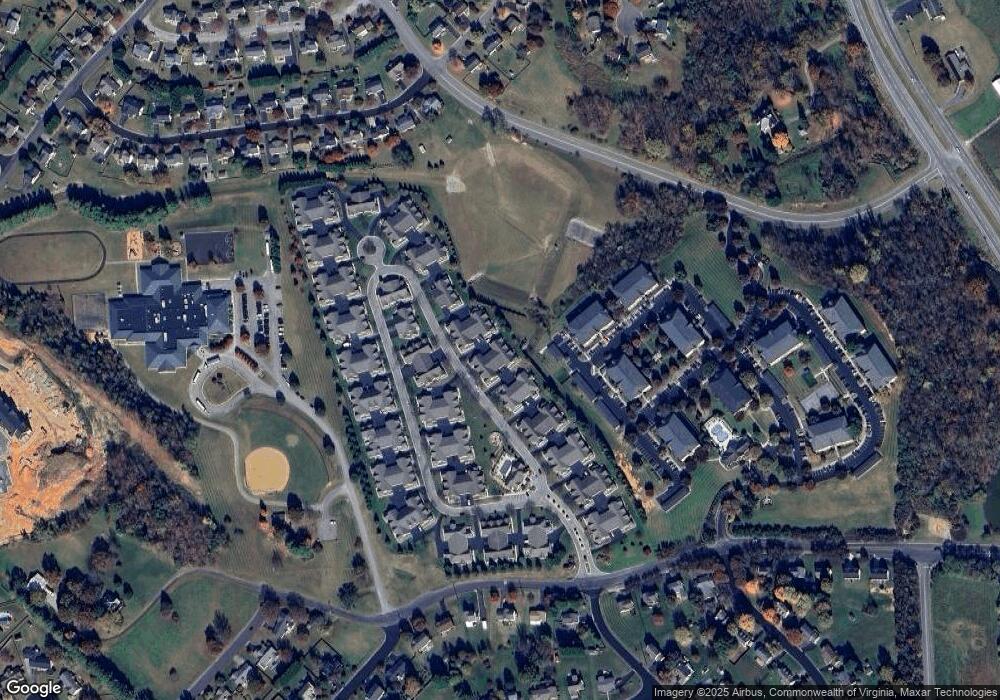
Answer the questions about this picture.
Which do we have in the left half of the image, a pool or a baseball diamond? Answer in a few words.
baseball diamond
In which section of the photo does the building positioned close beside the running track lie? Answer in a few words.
left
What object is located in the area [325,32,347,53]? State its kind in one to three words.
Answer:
house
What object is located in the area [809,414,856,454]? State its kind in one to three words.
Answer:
building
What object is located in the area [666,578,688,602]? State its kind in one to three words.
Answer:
house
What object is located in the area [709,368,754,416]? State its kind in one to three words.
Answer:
building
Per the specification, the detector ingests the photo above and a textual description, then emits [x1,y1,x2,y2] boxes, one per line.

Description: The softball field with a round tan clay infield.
[245,448,290,495]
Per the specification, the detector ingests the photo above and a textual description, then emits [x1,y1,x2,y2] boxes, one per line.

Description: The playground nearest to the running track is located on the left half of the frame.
[128,231,143,259]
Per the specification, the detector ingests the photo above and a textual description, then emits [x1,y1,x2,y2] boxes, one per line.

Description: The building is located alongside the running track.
[107,259,231,376]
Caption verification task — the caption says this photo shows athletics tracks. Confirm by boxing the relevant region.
[0,231,104,286]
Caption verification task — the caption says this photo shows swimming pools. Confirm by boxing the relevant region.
[703,416,736,449]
